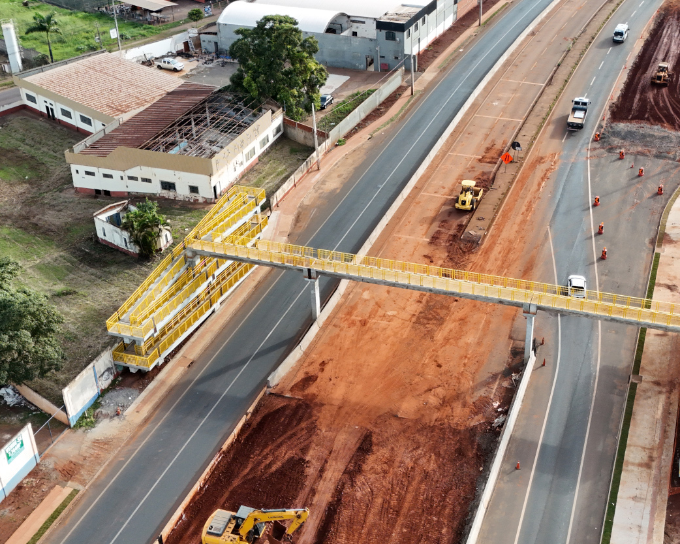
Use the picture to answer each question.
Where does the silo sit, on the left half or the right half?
left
